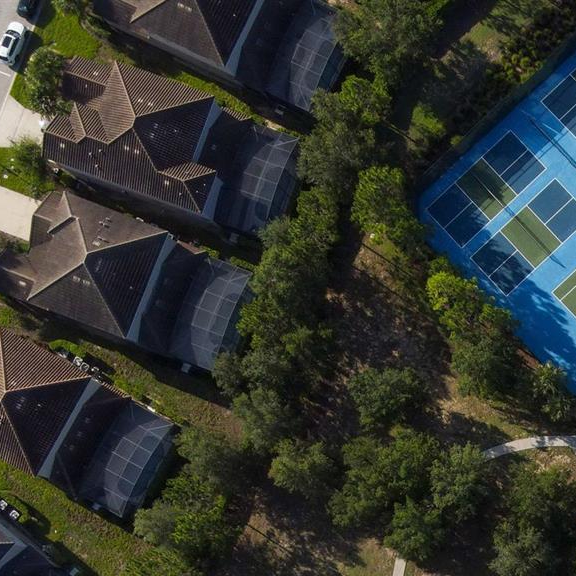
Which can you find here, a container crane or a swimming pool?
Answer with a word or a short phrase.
swimming pool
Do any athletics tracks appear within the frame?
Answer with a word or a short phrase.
No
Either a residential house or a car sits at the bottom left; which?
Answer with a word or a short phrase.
residential house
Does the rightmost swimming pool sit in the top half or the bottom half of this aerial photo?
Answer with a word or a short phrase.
top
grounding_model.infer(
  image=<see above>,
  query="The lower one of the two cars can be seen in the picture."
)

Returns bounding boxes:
[0,21,27,67]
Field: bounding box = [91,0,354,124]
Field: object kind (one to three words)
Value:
house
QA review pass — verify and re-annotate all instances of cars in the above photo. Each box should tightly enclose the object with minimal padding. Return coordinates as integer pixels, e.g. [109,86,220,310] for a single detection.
[0,21,27,67]
[16,0,42,21]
